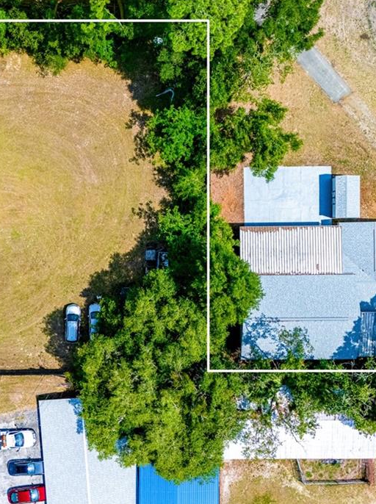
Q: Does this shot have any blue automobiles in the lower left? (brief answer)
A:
Yes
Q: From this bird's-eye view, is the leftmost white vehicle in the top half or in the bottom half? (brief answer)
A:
bottom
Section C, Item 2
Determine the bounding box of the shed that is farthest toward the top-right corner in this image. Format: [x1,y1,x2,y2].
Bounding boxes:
[335,176,361,218]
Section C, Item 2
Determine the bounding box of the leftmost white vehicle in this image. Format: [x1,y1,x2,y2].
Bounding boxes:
[0,431,37,451]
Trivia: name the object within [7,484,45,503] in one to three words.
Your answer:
car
